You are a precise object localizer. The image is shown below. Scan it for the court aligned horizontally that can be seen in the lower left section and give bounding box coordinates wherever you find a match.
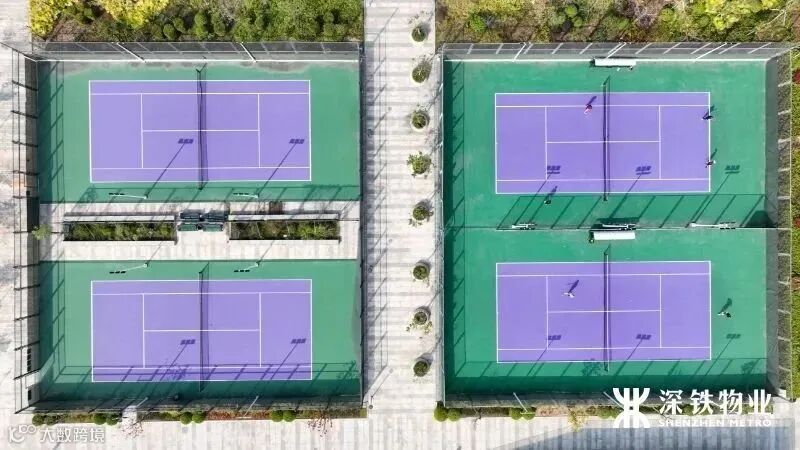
[39,257,360,399]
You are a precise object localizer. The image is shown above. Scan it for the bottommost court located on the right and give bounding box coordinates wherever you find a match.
[441,228,766,398]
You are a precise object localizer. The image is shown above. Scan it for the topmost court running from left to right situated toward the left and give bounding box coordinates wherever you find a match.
[37,62,359,205]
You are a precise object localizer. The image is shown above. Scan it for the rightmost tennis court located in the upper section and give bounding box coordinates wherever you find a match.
[440,62,765,229]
